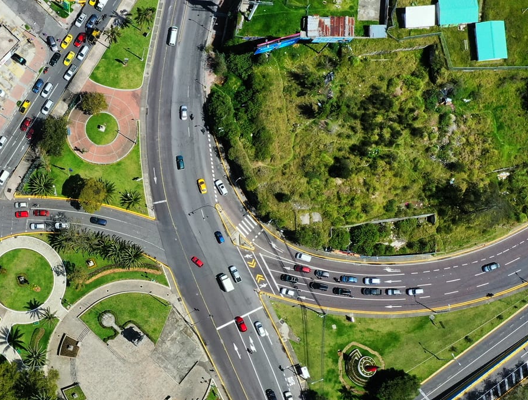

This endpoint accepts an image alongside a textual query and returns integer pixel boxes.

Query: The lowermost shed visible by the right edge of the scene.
[468,20,507,64]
